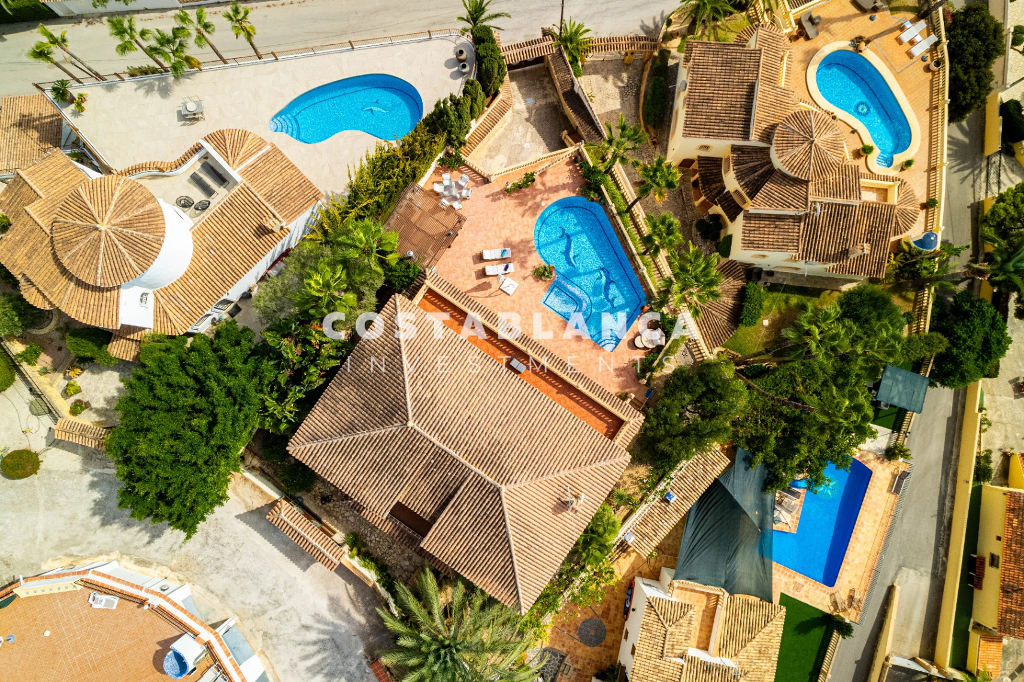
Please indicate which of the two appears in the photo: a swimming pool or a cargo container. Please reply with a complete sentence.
There is a swimming pool in the scene.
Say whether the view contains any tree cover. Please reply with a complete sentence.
Yes, some tree cover is visible.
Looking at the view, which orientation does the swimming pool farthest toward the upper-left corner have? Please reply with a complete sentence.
The swimming pool farthest toward the upper-left corner is laid out from left to right.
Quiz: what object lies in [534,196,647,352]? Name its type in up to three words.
swimming pool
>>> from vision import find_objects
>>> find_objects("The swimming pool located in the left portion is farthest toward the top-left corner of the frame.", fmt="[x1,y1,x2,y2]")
[270,74,423,143]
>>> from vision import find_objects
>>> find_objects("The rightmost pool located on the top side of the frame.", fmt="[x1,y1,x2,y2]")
[807,40,920,173]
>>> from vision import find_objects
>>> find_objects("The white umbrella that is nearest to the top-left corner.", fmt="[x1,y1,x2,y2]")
[496,276,520,296]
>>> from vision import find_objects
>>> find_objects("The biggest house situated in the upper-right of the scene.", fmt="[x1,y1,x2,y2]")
[666,21,922,282]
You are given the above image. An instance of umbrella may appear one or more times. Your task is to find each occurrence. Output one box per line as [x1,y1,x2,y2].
[496,276,520,296]
[775,509,790,527]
